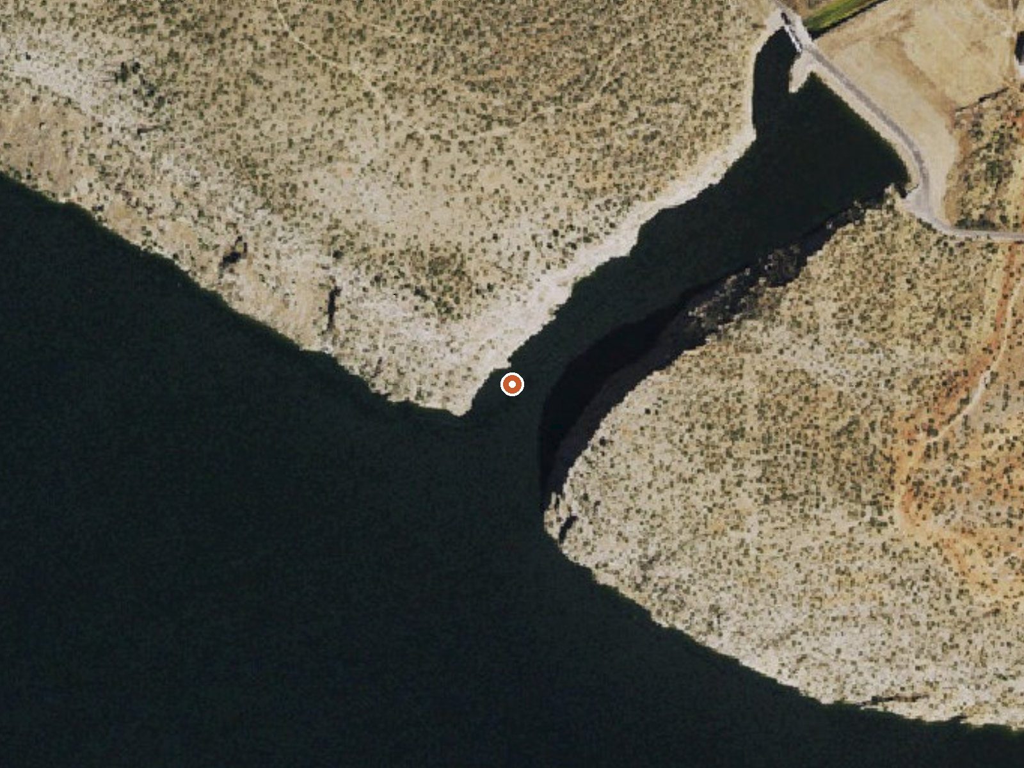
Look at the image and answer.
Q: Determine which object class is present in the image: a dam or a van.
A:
dam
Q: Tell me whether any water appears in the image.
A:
Yes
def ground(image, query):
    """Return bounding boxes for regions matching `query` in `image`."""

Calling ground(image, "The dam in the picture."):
[795,24,946,213]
